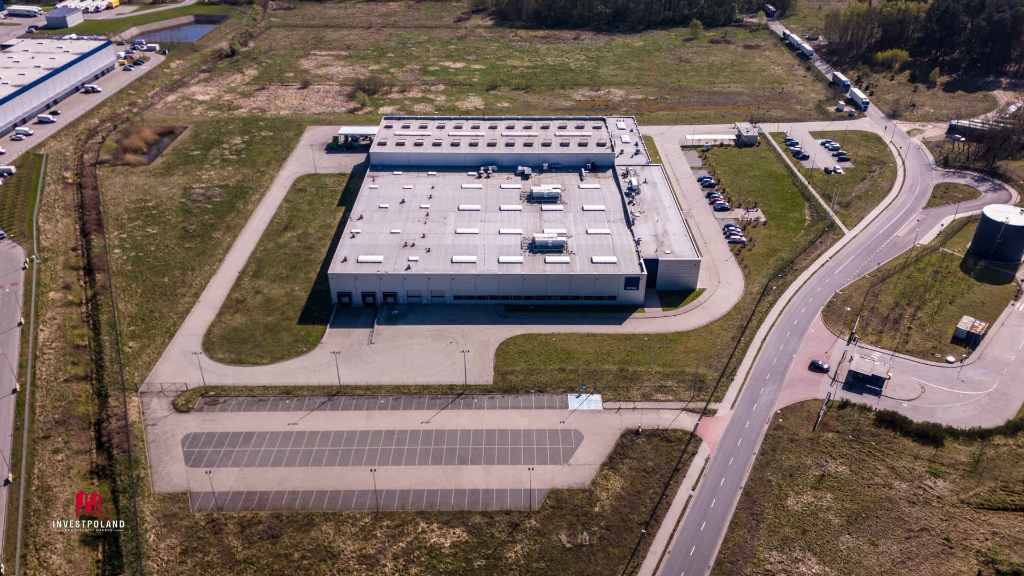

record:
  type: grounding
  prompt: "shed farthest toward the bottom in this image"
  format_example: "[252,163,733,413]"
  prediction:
[847,351,900,391]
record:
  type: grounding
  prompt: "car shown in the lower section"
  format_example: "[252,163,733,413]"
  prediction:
[808,360,830,372]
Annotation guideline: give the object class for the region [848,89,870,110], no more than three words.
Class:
truck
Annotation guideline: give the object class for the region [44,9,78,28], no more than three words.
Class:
shed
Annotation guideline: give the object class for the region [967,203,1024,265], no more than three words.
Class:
water tank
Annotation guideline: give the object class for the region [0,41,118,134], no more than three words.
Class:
building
